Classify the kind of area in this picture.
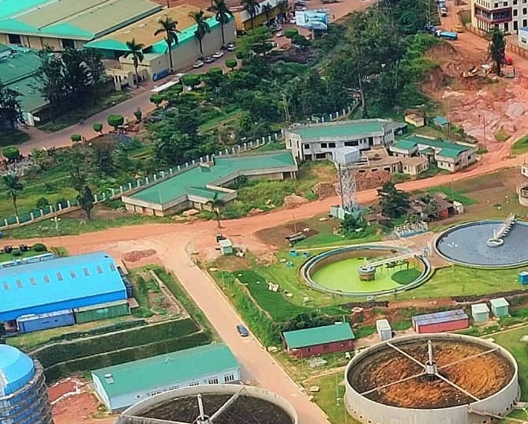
industrial area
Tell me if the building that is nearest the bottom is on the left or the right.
left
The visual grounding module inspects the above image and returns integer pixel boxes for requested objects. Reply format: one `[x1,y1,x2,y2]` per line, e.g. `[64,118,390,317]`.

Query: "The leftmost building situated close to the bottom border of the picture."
[89,343,240,412]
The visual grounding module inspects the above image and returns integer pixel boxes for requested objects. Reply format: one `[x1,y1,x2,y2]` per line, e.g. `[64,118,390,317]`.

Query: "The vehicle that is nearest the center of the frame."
[235,322,248,335]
